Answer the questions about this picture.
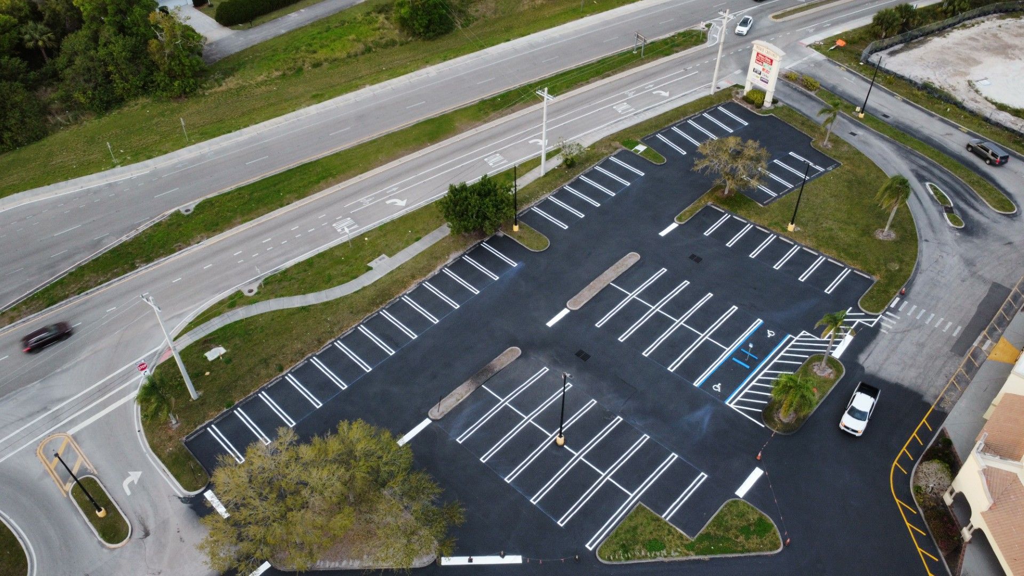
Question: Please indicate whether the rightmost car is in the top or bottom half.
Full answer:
You can find the rightmost car in the top half.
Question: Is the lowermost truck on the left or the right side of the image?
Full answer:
You can find the lowermost truck on the right side of the picture.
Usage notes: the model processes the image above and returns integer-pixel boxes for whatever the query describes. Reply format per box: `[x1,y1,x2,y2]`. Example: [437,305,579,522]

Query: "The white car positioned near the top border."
[736,15,754,34]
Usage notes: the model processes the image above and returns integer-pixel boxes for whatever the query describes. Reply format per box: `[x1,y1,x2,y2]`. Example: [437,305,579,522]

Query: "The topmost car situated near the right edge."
[965,137,1012,165]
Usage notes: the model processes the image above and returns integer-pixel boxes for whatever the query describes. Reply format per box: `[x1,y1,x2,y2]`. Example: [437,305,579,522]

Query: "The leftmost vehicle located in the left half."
[17,319,73,353]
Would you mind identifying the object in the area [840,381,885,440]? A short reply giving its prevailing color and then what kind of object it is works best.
white truck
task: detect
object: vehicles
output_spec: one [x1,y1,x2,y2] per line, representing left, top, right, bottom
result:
[17,319,73,353]
[736,15,754,34]
[840,381,885,440]
[965,137,1012,165]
